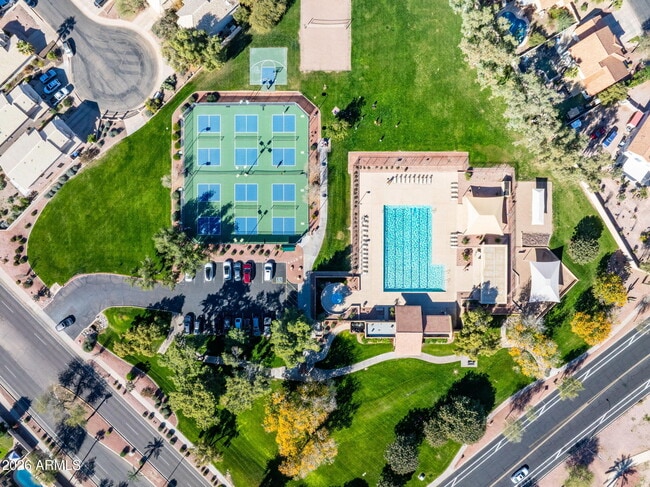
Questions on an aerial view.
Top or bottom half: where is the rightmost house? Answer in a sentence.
The rightmost house sits in the top half of the picture.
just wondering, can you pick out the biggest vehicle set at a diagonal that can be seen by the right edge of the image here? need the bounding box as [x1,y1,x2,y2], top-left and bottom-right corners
[625,108,649,132]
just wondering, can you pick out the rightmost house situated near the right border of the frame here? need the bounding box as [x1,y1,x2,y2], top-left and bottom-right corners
[615,112,650,197]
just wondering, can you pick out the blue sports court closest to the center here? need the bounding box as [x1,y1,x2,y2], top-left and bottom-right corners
[271,184,295,234]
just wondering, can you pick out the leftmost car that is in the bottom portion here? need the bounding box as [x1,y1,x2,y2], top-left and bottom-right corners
[58,316,76,330]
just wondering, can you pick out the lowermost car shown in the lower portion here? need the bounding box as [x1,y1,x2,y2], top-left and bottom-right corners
[510,466,529,482]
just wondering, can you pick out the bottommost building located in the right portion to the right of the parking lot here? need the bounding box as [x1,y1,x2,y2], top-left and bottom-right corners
[366,305,453,356]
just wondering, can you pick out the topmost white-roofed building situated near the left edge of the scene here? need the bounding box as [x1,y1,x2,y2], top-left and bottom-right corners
[0,16,45,90]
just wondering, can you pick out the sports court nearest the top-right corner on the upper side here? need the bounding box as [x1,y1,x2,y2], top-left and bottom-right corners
[300,0,352,71]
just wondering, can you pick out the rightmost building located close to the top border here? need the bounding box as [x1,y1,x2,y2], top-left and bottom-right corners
[564,15,631,98]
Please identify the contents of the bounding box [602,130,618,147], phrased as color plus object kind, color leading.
blue car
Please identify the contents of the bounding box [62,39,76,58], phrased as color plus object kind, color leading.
white vehicle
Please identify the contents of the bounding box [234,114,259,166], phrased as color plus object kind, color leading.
blue sports court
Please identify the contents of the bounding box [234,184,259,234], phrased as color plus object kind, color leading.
blue sports court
